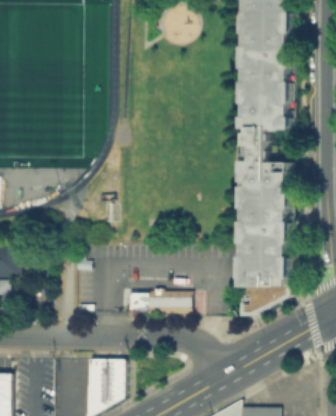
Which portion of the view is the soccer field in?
top left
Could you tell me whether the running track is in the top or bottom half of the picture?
top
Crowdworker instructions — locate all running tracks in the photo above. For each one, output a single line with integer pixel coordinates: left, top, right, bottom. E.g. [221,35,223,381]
[0,0,119,217]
